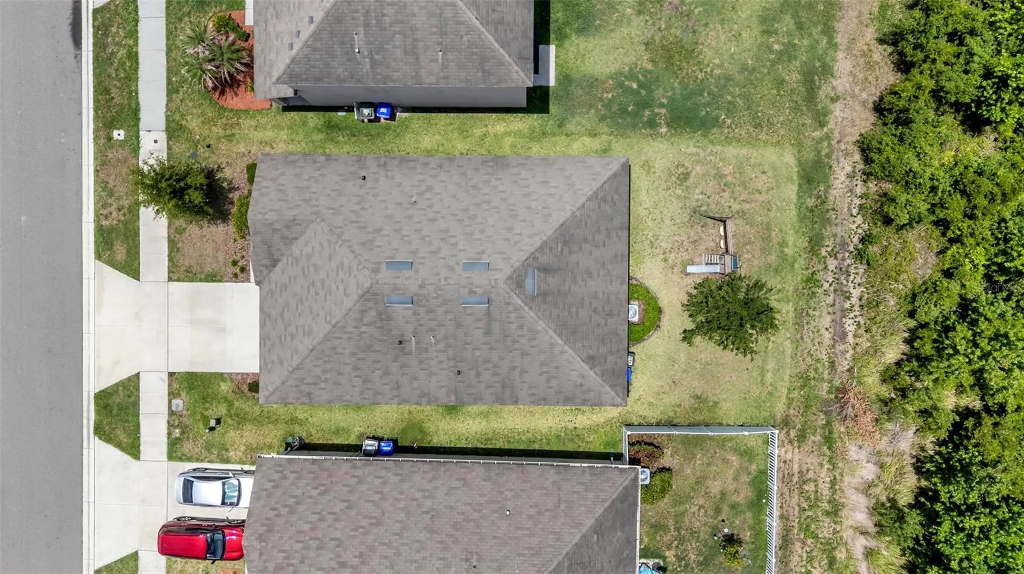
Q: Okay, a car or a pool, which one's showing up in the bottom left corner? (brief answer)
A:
car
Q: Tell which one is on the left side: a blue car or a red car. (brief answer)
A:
red car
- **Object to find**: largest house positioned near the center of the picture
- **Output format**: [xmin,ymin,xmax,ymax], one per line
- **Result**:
[249,155,632,408]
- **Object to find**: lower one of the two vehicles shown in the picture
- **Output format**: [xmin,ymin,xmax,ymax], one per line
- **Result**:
[156,518,245,567]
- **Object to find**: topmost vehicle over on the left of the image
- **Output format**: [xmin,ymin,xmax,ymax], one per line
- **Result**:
[172,468,255,514]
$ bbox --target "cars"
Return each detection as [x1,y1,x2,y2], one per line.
[172,468,255,514]
[156,518,245,567]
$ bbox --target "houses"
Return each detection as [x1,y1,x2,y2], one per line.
[253,0,535,107]
[241,449,640,574]
[249,155,632,408]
